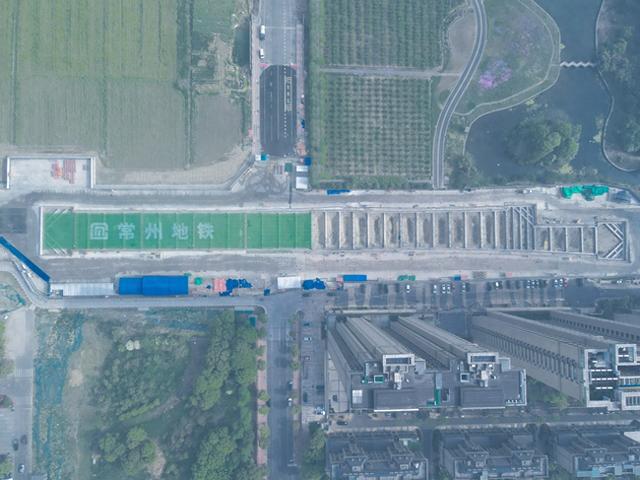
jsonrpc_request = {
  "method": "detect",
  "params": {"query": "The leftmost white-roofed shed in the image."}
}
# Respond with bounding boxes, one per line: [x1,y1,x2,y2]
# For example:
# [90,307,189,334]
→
[49,283,116,296]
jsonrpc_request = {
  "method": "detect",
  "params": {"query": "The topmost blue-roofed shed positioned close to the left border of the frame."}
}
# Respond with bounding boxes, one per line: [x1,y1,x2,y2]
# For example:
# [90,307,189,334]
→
[0,233,54,282]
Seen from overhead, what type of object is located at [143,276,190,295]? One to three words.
shed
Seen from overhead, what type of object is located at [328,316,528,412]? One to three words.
building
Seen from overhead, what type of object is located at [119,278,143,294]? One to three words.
shed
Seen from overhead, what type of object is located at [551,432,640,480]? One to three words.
building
